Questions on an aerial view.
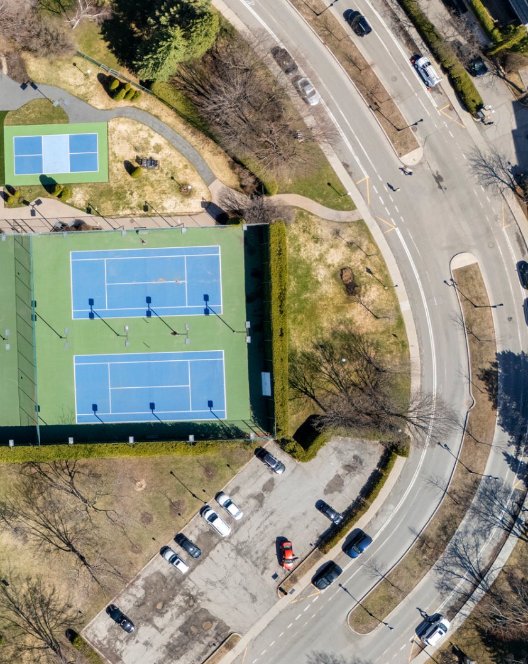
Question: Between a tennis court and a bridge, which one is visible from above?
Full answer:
There is a tennis court in the scene.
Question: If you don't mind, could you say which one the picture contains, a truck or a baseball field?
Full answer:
Of the two, only a truck appears.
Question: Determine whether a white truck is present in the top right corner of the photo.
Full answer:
Yes, in the top right corner of the photo there is a white truck.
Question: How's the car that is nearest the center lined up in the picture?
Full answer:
Seen from above, the car that is nearest the center lies diagonally.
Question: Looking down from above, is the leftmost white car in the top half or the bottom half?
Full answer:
Seen from above, the leftmost white car lies in the bottom half of the view.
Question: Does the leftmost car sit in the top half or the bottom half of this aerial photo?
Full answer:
The leftmost car is in the bottom half of the image.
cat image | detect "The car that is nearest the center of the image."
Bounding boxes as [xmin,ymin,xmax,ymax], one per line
[255,447,284,474]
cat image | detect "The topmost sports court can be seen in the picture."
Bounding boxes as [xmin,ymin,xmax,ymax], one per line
[4,121,108,185]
